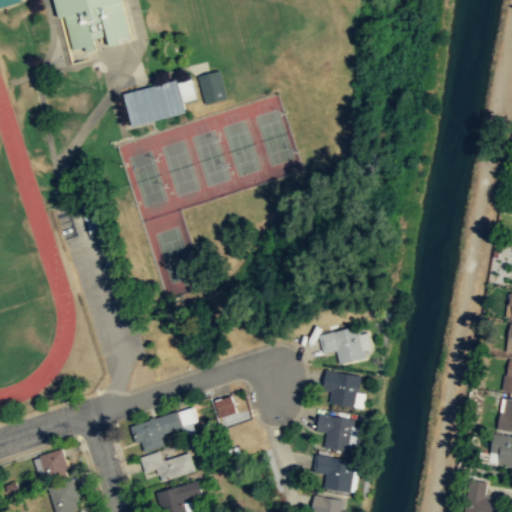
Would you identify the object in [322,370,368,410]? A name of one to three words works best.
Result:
house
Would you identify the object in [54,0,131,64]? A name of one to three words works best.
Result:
building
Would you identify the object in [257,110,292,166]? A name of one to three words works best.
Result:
tennis court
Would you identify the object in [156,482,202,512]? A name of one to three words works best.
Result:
house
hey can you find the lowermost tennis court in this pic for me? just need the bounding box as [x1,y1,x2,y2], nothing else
[158,228,192,284]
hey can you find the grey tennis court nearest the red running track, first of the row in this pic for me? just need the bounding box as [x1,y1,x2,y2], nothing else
[131,151,168,208]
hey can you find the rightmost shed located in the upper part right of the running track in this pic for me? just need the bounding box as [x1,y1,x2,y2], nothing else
[198,70,226,103]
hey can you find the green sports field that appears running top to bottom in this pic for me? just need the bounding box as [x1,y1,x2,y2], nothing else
[0,131,58,386]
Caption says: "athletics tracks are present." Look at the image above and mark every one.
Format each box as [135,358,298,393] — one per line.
[0,75,76,404]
